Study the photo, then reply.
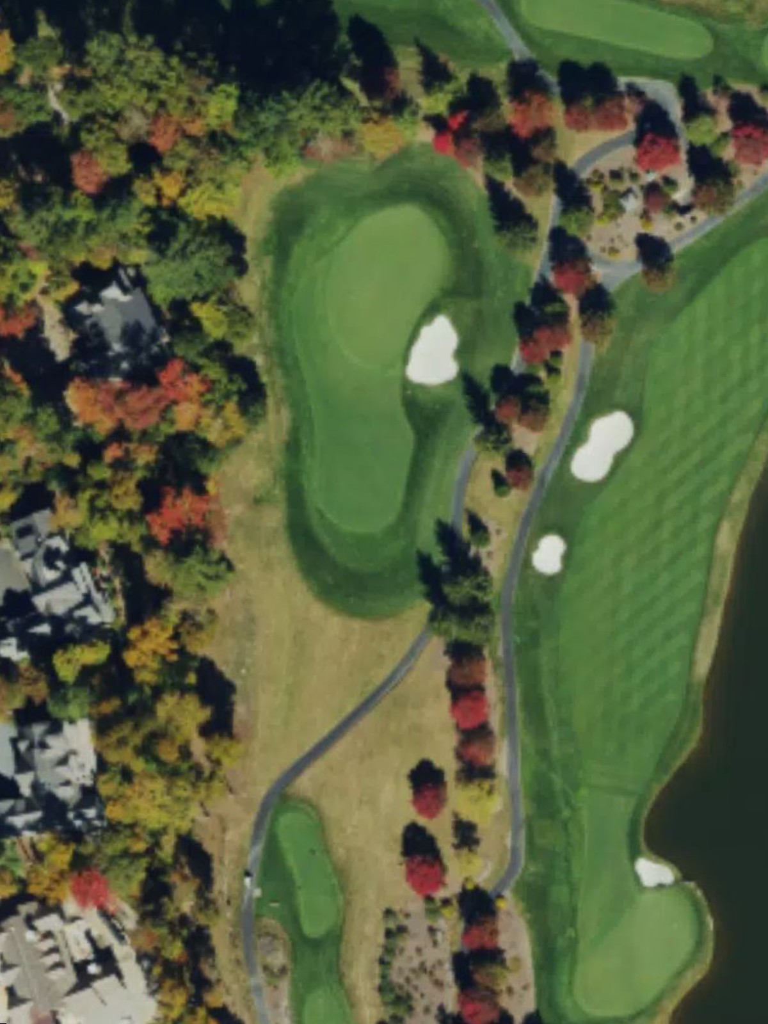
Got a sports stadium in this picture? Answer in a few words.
No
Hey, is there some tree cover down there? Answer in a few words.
Yes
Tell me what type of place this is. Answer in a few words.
golf course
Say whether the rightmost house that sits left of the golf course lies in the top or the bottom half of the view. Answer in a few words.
top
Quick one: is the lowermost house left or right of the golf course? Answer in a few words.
to the left of it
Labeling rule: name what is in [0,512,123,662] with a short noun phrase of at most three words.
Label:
house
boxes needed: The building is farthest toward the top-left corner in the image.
[75,275,177,374]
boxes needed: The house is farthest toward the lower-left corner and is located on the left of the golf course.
[0,900,147,1024]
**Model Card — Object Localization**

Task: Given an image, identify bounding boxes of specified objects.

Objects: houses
[0,716,107,835]
[0,900,147,1024]
[75,275,177,374]
[0,512,123,662]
